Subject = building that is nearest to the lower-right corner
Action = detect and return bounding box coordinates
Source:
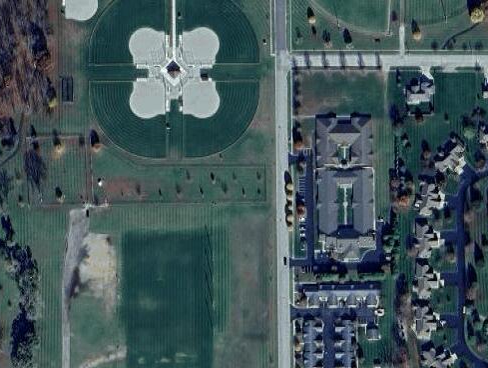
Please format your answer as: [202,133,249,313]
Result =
[423,348,457,368]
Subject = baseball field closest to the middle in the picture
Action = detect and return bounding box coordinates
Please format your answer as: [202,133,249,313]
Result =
[182,81,259,158]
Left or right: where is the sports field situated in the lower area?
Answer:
left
